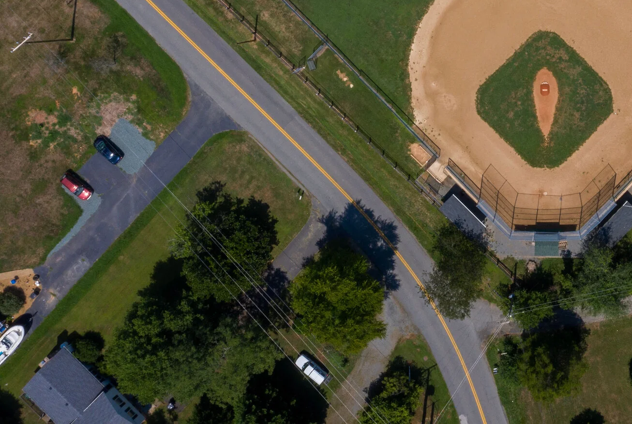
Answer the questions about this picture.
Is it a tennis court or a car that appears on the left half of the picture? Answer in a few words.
car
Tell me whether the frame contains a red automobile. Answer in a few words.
Yes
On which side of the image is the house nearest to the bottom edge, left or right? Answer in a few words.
left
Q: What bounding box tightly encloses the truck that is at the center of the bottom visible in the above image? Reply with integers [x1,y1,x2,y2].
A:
[292,355,331,391]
